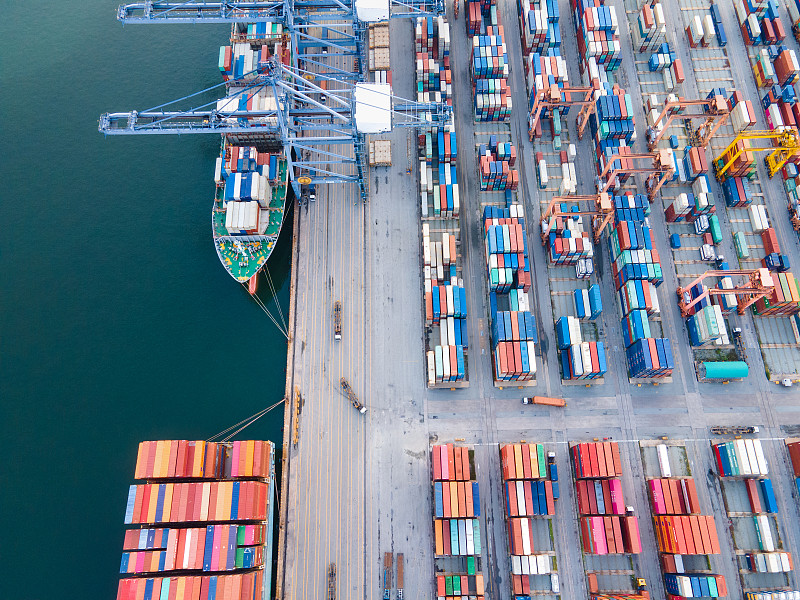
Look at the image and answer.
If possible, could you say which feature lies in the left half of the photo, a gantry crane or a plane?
gantry crane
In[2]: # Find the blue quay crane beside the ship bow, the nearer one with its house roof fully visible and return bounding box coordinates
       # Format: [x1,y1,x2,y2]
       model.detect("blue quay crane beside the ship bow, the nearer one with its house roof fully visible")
[96,62,442,205]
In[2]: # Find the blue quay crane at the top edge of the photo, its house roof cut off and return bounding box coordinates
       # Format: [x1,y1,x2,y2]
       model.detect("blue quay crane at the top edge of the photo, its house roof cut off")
[116,0,437,102]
